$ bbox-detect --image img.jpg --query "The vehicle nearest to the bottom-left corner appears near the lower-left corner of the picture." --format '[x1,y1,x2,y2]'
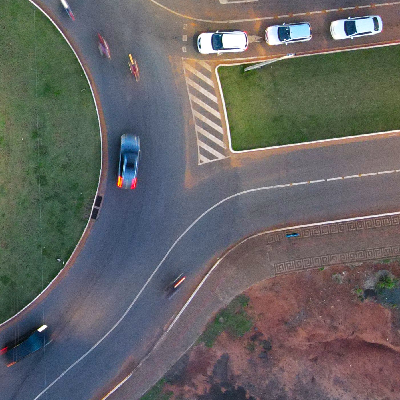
[0,323,49,365]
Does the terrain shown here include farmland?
No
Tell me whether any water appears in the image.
No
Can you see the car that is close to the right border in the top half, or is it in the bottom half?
top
